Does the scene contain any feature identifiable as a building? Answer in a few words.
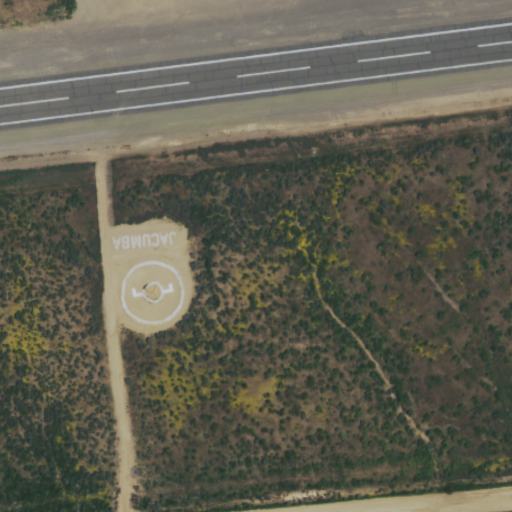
No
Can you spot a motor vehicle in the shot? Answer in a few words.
No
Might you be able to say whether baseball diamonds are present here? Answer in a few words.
No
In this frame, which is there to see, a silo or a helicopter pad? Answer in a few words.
helicopter pad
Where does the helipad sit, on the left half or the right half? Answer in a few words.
left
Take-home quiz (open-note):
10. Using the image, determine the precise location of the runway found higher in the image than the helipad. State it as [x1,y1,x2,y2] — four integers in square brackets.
[0,18,512,130]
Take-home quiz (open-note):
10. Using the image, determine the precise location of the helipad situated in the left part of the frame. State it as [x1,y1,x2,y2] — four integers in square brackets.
[105,217,194,335]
